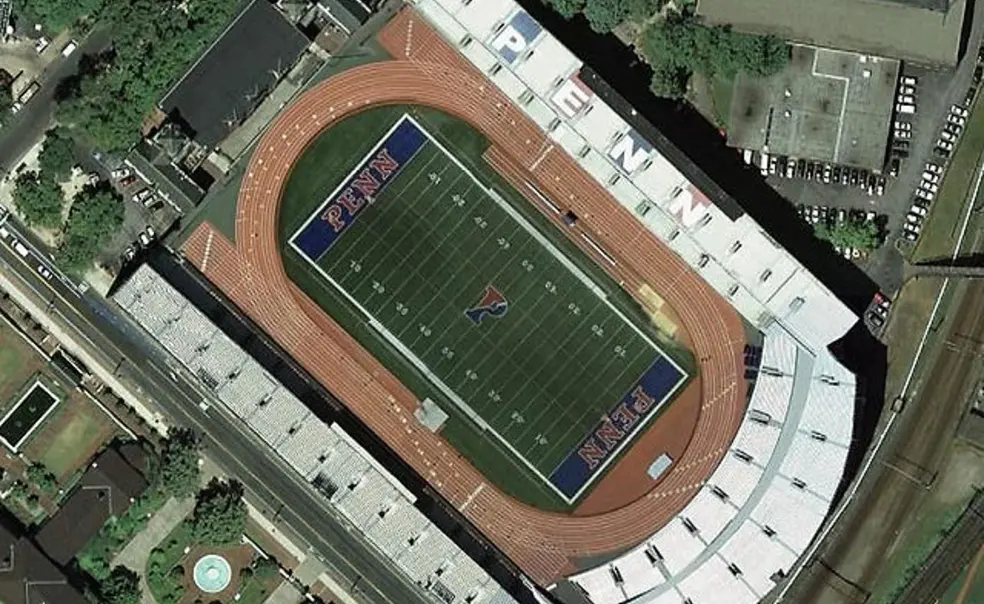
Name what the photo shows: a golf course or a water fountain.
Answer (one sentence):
Of the two, only a water fountain appears.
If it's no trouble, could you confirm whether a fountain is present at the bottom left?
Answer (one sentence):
Yes, the scene does show a fountain at the bottom left.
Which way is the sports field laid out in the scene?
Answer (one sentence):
From this overhead view, the sports field appears to run on a diagonal.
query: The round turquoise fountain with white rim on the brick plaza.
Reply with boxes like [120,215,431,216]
[193,554,232,592]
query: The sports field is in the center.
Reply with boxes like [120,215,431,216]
[280,105,688,503]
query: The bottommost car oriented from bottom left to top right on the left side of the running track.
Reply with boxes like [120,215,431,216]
[122,244,135,260]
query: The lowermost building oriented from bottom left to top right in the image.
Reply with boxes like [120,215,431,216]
[32,436,156,567]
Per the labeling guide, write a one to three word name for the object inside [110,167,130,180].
vehicle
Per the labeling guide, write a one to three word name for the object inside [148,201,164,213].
vehicle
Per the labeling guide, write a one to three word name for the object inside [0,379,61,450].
pond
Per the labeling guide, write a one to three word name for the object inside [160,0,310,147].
building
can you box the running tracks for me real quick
[178,5,745,589]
